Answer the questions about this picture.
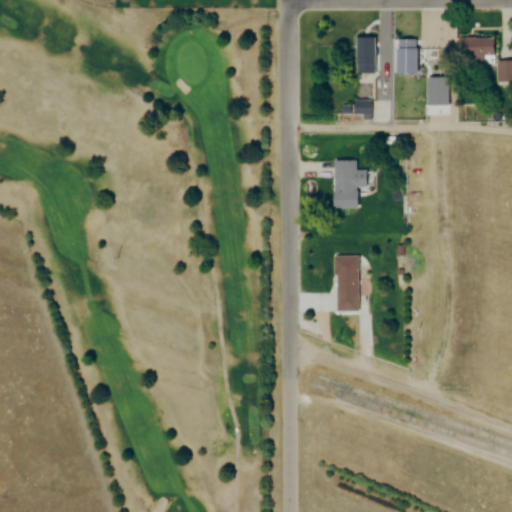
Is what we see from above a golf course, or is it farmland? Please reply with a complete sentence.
This image shows a golf course.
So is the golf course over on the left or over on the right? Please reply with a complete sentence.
The golf course sits on the left side.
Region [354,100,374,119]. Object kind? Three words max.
building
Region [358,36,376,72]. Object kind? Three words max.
house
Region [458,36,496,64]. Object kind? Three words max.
house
